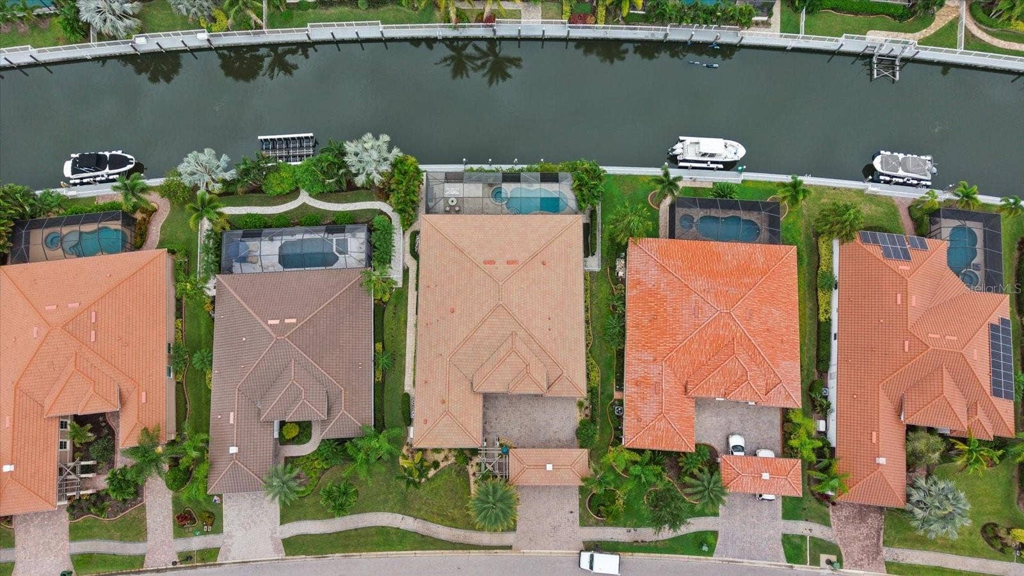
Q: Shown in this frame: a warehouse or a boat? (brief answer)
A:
boat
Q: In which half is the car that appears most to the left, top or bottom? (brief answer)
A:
bottom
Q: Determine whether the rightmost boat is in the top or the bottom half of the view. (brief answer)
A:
top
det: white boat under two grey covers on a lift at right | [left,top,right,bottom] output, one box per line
[872,155,936,185]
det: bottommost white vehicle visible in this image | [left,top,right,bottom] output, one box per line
[577,548,622,575]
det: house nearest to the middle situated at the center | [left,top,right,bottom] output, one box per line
[413,213,588,448]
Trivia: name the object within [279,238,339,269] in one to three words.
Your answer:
swimming pool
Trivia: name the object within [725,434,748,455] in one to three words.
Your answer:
car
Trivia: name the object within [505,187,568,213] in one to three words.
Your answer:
swimming pool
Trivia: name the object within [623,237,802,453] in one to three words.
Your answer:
house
